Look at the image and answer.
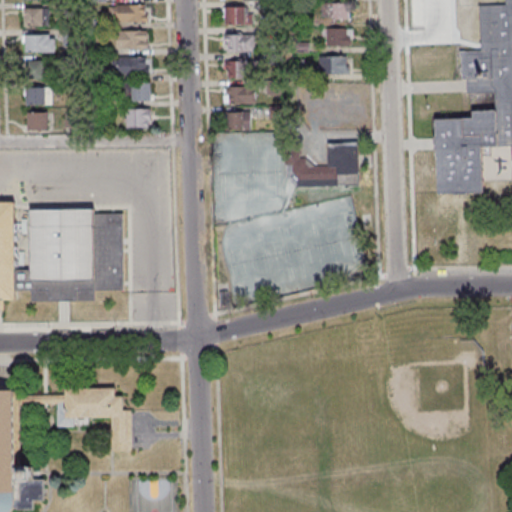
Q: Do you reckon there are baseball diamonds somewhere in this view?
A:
Yes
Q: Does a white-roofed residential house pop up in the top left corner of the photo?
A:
Yes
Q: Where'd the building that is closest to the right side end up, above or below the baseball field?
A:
above it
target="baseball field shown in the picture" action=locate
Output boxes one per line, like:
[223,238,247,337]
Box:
[390,352,476,439]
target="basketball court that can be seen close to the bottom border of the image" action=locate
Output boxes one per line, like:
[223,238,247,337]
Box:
[129,476,179,512]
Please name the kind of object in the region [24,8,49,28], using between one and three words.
house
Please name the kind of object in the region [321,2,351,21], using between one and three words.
house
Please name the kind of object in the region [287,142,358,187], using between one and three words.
building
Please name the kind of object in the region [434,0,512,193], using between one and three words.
building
